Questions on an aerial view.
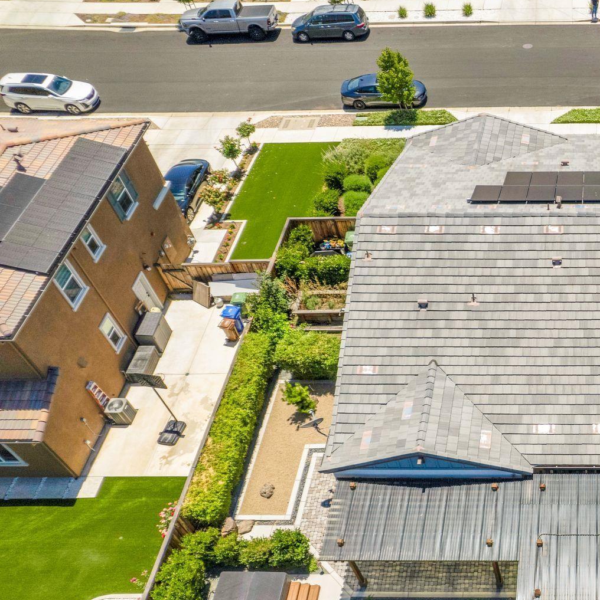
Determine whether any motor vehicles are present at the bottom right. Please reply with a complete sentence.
No, no motor vehicle appears at the bottom right.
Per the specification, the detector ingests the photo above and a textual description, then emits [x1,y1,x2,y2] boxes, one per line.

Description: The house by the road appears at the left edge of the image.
[0,116,193,477]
